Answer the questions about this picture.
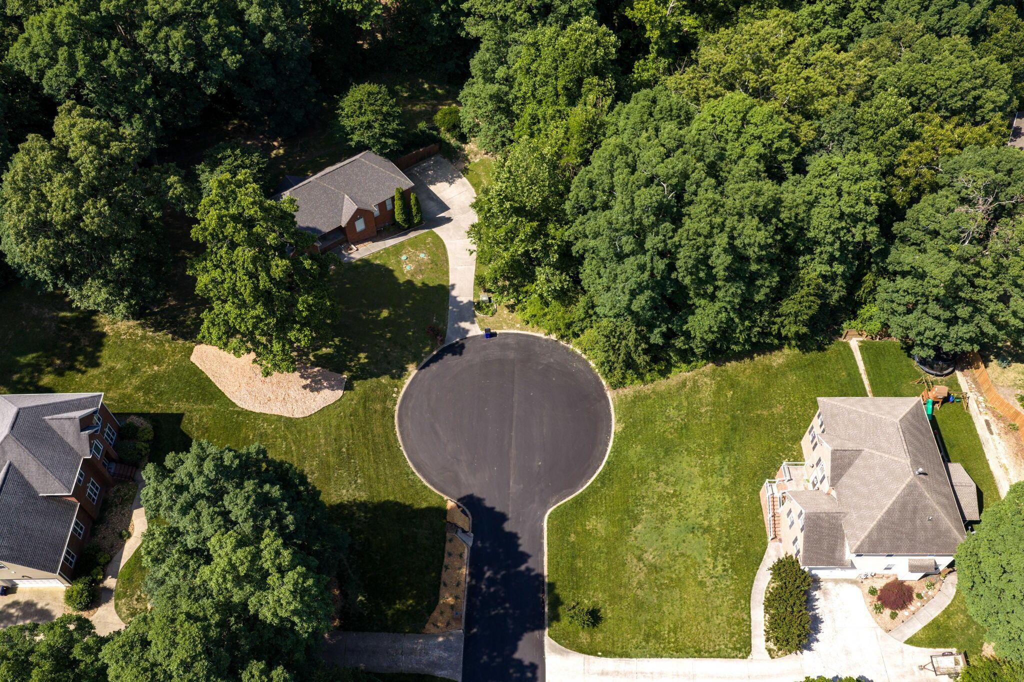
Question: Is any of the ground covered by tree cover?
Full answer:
Yes, tree cover can be seen from above here.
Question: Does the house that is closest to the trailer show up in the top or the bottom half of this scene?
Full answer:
The house that is closest to the trailer is in the bottom half of the image.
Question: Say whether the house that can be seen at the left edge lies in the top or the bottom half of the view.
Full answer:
Seen from above, the house that can be seen at the left edge lies in the bottom half of the view.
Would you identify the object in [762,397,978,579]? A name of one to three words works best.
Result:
house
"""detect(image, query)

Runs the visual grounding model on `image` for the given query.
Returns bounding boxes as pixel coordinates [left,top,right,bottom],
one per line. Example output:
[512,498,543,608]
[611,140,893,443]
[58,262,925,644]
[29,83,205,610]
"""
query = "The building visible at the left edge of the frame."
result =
[0,392,147,587]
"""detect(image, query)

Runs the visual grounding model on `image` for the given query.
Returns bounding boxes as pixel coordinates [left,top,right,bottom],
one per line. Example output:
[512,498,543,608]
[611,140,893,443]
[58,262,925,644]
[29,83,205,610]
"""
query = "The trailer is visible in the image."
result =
[916,650,971,677]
